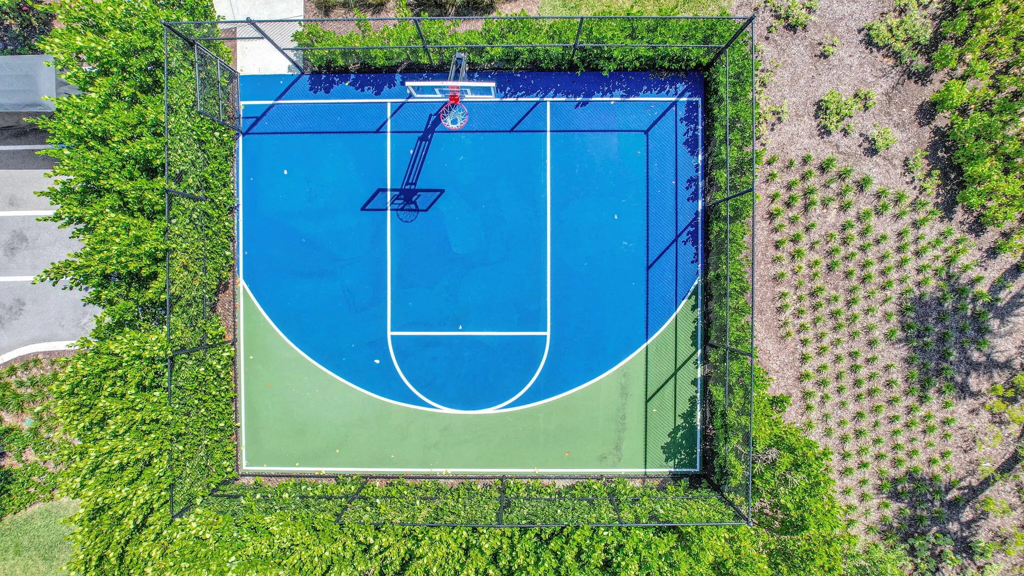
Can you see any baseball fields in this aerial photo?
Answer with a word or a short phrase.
No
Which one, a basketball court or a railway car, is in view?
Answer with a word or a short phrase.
basketball court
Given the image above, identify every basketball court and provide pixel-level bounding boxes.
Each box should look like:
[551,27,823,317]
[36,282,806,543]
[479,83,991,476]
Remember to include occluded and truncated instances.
[237,71,704,475]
